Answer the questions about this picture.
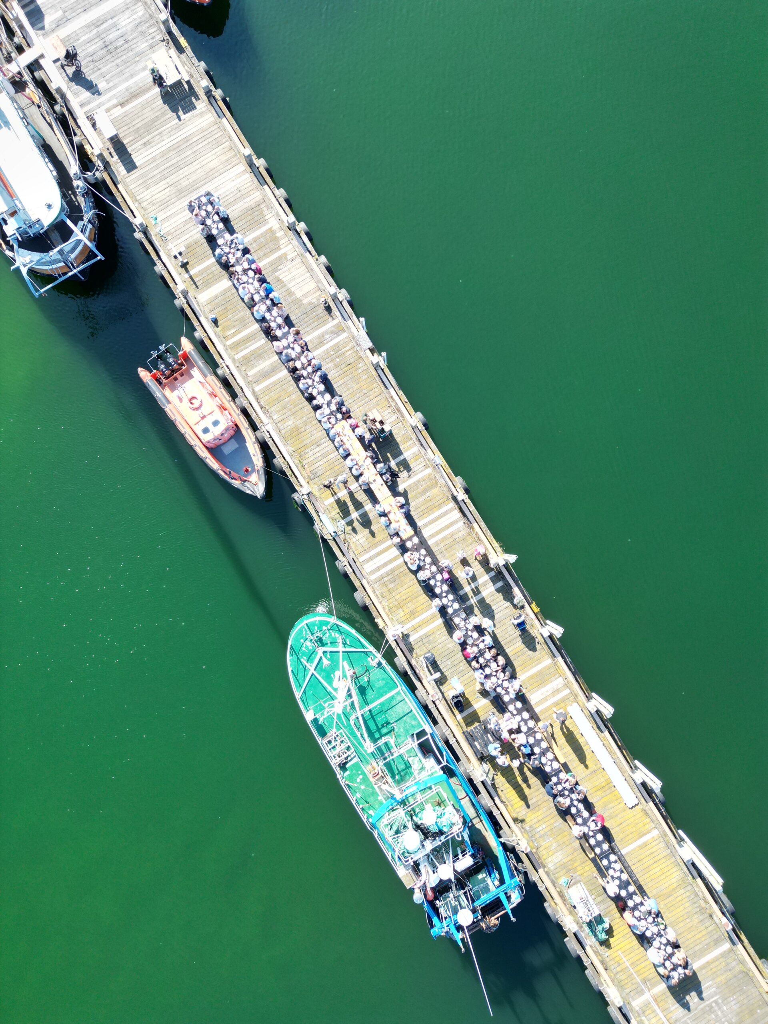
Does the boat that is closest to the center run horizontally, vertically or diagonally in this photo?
diagonally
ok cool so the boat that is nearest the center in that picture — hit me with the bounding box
[142,340,270,501]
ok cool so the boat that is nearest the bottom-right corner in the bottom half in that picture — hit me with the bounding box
[286,613,528,1018]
